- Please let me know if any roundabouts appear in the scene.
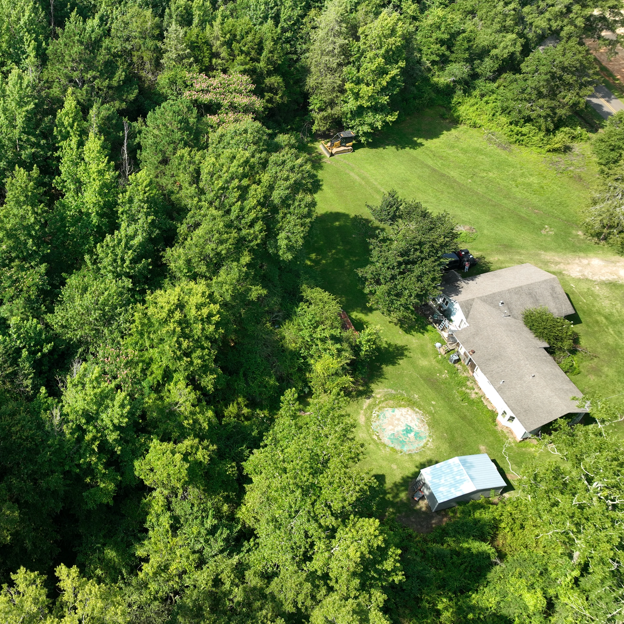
No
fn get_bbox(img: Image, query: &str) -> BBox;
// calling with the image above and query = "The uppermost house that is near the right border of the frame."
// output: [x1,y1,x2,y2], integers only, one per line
[435,263,595,443]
